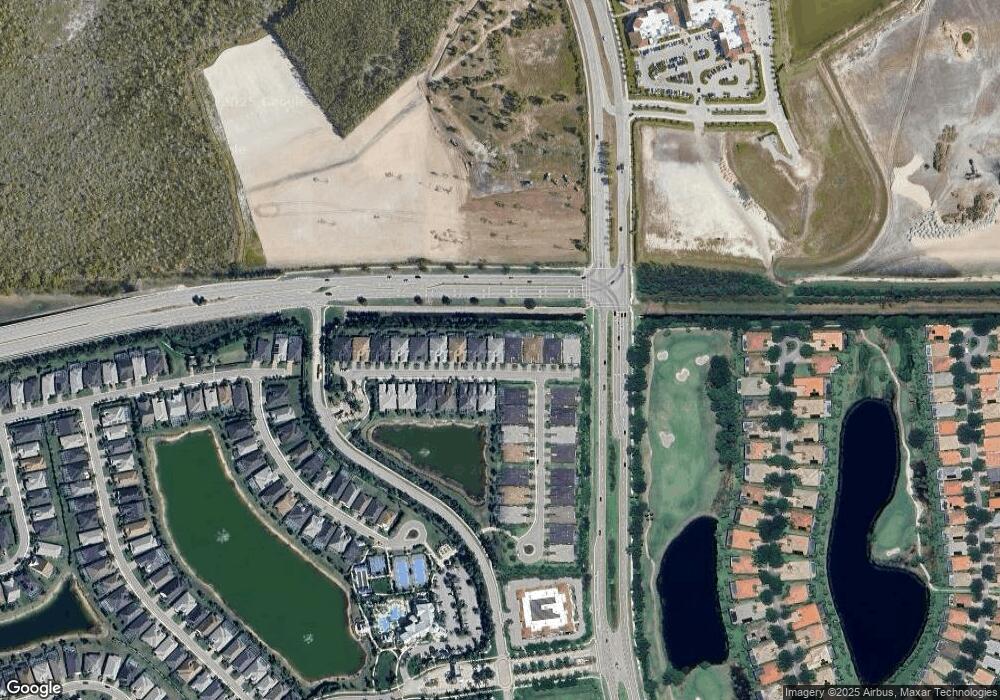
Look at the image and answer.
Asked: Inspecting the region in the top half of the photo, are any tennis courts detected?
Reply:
No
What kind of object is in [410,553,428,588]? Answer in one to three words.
tennis court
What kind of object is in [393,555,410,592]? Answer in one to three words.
tennis court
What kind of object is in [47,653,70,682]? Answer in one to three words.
house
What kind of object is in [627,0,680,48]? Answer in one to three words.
building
